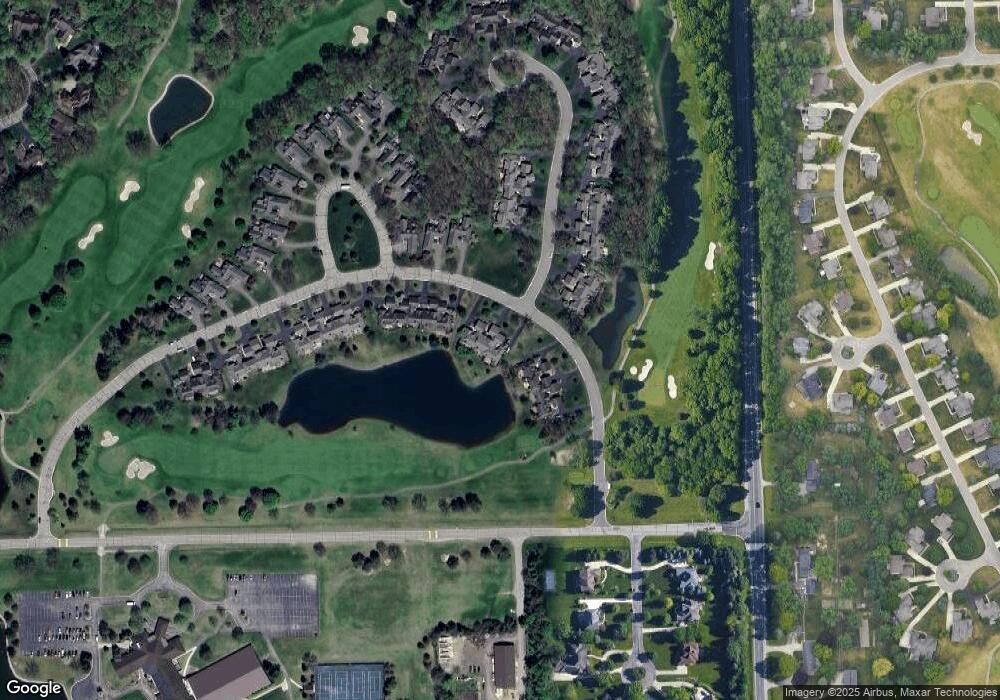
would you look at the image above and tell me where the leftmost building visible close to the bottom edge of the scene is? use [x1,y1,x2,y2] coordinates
[112,615,188,700]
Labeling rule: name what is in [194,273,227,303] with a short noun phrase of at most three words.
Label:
house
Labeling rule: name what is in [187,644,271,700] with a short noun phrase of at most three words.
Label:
building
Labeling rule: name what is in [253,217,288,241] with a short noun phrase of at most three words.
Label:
house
